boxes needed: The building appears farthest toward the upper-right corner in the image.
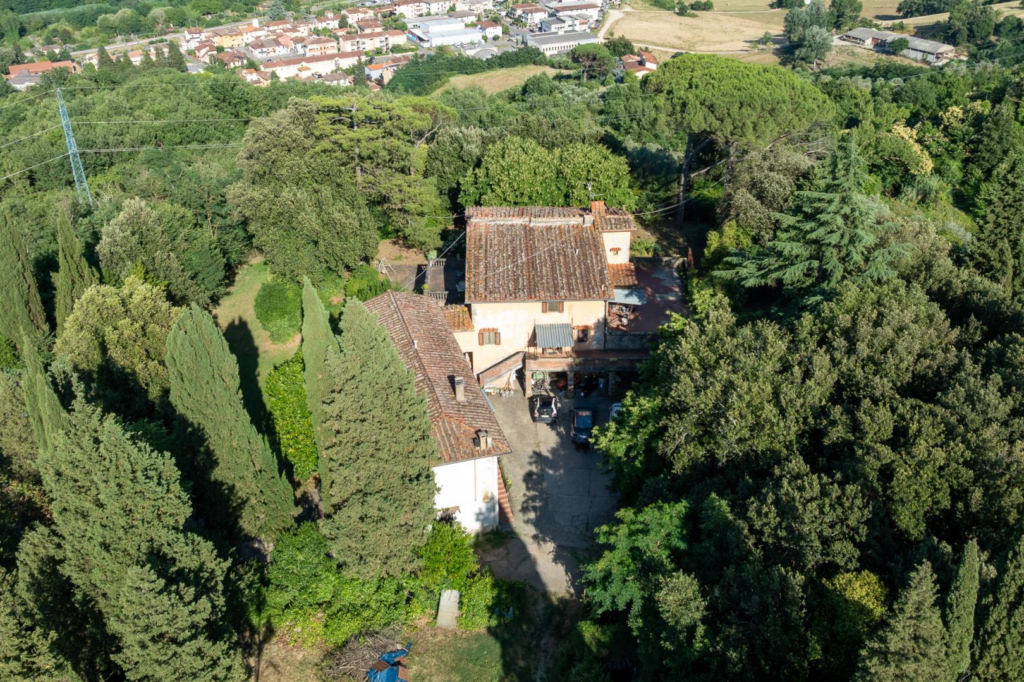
[896,35,960,61]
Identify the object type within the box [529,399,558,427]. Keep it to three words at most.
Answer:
car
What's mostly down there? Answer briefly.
trees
